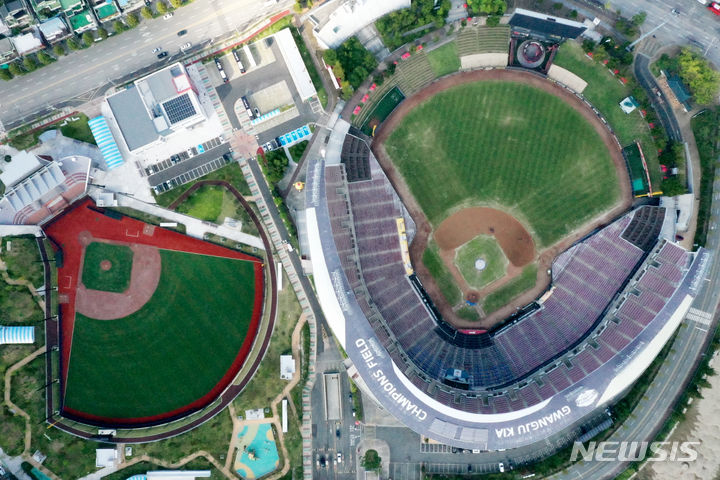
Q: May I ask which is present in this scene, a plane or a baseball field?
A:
baseball field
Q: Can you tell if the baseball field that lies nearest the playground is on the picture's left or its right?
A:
left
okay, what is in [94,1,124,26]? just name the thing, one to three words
house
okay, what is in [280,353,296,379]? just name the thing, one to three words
building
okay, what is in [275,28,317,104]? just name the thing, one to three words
building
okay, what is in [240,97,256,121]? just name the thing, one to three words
vehicle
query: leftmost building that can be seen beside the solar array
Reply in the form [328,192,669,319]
[107,84,170,155]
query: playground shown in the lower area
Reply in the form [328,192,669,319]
[234,423,279,479]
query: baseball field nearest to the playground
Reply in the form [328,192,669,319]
[47,198,262,423]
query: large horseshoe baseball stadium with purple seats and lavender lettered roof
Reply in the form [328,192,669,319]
[299,121,710,451]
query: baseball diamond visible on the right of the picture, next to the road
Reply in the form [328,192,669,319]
[371,70,641,337]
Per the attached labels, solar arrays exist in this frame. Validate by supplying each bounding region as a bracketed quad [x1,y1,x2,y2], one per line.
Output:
[162,93,196,124]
